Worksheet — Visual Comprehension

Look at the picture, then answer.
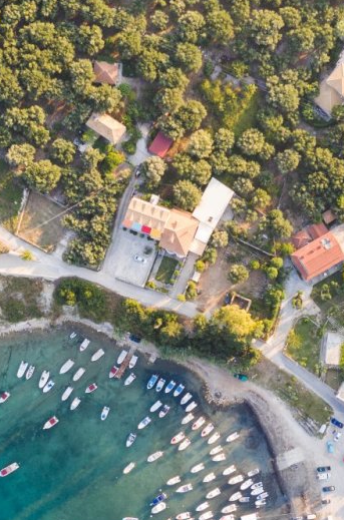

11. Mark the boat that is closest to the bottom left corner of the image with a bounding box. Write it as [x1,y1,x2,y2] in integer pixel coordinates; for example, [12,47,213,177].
[0,461,22,475]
